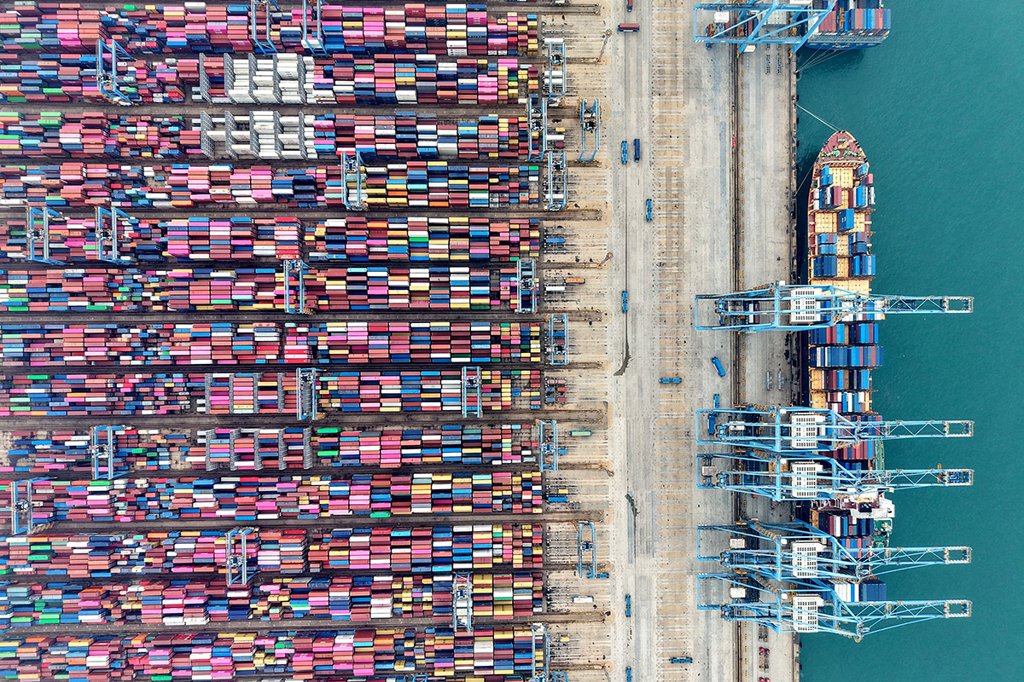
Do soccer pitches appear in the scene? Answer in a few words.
No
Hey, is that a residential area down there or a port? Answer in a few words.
port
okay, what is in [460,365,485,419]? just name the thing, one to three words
crane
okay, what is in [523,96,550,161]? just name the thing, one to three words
crane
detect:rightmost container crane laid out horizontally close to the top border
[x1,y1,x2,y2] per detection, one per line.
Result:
[692,0,852,64]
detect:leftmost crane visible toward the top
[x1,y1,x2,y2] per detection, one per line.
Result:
[28,205,74,264]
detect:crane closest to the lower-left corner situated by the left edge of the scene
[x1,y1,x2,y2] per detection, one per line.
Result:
[11,476,59,534]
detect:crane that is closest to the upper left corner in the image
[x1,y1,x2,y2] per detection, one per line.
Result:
[93,37,139,107]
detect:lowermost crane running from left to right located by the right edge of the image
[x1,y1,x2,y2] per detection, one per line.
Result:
[696,558,973,641]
